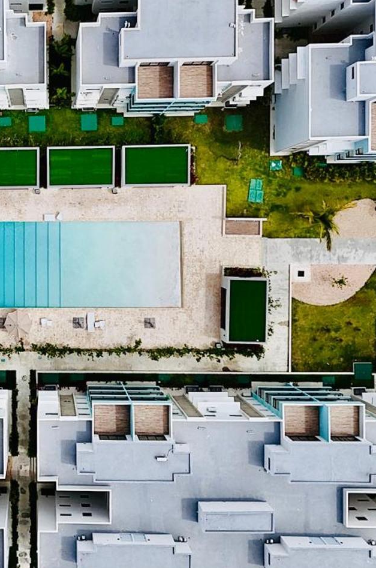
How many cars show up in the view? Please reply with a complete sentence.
Not a single car can be seen.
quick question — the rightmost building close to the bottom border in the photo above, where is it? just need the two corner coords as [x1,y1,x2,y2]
[34,379,376,568]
